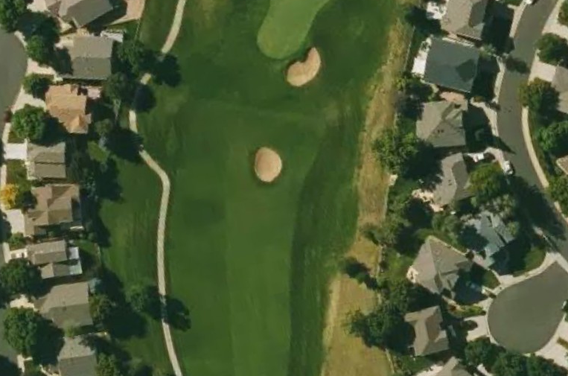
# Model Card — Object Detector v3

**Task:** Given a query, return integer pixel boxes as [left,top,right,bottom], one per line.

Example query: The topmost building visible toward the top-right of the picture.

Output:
[440,0,488,38]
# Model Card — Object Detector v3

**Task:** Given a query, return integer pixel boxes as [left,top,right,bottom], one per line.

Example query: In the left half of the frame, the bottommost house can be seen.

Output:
[57,335,97,376]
